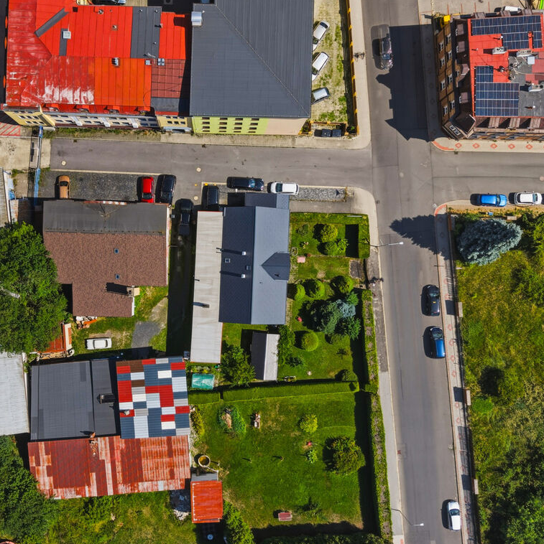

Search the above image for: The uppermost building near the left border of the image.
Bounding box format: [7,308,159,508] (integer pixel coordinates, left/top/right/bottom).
[1,0,192,137]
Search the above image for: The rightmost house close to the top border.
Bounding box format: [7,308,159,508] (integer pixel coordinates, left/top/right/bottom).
[430,6,544,146]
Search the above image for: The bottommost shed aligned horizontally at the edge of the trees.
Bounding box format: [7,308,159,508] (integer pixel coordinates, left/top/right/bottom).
[28,434,191,500]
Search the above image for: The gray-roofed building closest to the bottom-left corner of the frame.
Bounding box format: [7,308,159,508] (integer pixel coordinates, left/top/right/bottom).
[31,358,119,440]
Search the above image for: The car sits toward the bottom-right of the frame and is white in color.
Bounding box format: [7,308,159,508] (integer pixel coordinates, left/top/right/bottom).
[445,502,460,529]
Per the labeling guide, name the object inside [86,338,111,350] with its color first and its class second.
white vehicle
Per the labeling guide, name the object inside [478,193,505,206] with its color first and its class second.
blue vehicle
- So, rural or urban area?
urban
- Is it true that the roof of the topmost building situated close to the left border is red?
Yes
